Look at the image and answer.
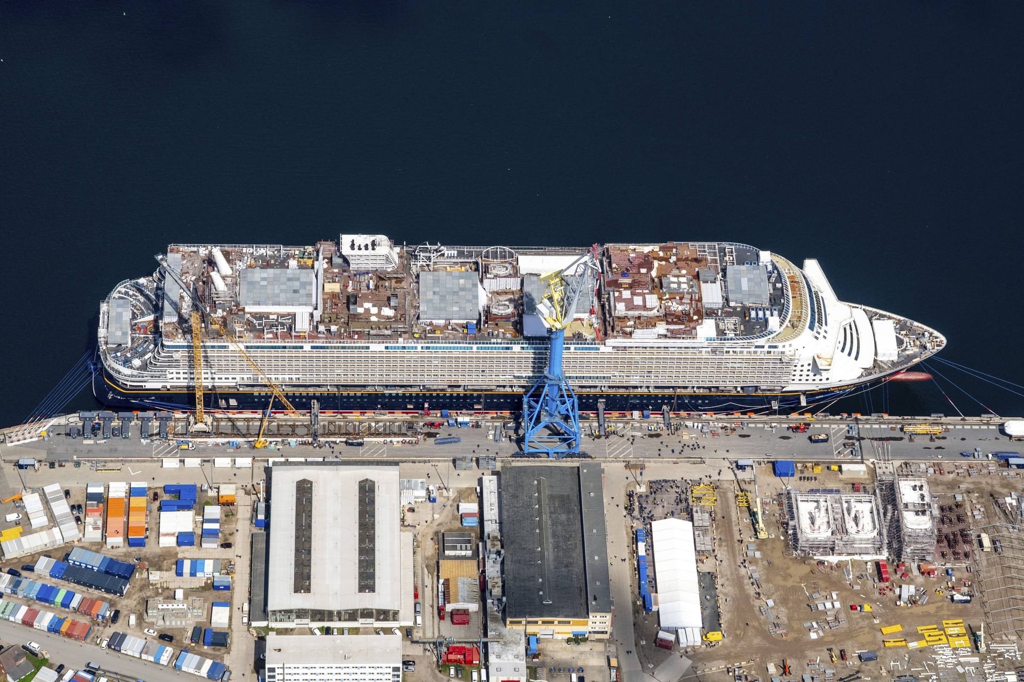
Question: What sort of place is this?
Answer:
port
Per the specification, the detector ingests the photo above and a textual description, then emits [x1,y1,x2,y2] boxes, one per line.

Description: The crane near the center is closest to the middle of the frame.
[508,243,602,462]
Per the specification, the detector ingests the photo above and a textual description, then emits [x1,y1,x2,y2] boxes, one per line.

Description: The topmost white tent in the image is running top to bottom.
[651,517,702,633]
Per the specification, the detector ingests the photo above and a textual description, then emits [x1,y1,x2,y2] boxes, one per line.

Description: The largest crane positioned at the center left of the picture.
[157,256,300,436]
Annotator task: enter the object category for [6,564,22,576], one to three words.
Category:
vehicle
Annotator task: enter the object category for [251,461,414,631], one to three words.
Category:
building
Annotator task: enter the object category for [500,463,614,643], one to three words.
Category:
building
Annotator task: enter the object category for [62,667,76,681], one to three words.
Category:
vehicle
